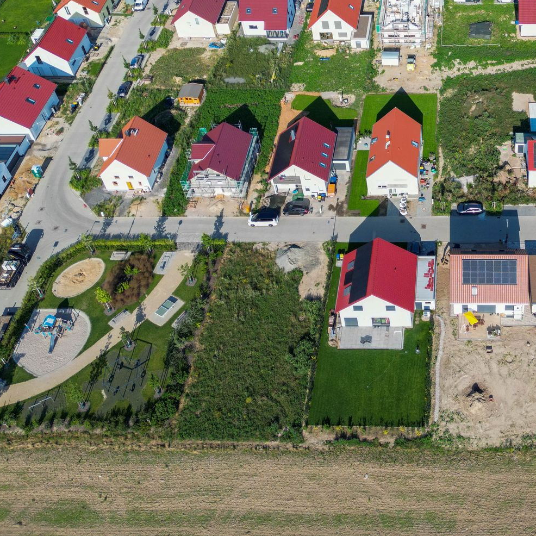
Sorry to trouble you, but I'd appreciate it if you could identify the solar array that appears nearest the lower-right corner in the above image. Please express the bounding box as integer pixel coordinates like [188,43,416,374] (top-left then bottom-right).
[462,260,516,285]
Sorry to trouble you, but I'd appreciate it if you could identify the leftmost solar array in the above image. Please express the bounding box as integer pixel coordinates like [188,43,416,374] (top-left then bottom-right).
[272,124,298,177]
